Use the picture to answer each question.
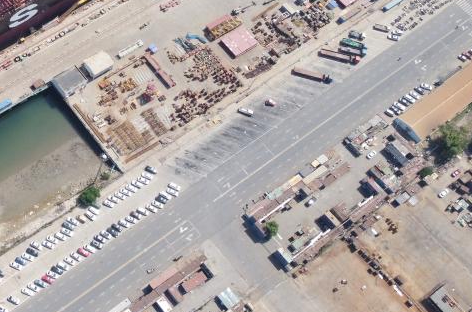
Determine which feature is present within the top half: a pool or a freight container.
freight container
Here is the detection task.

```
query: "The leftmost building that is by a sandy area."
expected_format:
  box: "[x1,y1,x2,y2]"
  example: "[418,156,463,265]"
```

[50,66,88,102]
